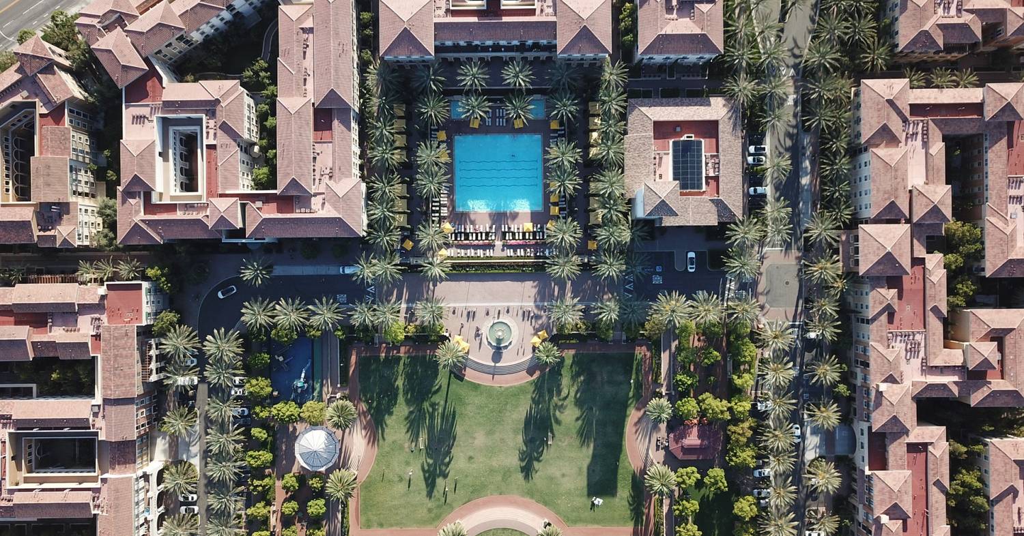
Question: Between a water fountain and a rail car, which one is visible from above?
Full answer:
Looking from above, you can make out a water fountain.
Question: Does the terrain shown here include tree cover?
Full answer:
Yes, tree cover shows up in the scene.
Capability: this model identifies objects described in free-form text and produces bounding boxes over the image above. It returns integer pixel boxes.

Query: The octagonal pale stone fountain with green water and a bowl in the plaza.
[487,321,513,348]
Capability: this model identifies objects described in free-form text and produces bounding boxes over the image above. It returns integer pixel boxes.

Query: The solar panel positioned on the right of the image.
[673,140,703,190]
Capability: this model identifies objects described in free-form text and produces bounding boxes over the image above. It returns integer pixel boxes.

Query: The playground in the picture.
[270,331,313,401]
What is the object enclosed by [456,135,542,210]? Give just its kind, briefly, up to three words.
swimming pool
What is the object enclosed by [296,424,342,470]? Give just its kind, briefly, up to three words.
gazebo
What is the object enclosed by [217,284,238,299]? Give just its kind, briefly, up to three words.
car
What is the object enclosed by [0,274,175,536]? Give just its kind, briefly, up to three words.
building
